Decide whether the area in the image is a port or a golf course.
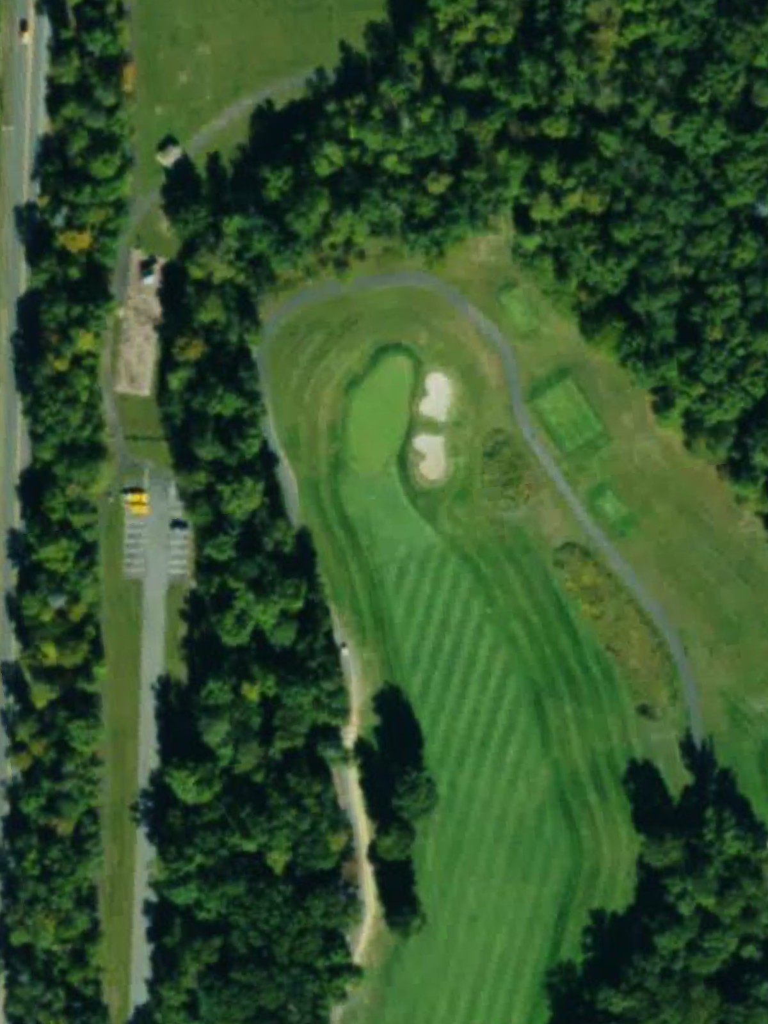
golf course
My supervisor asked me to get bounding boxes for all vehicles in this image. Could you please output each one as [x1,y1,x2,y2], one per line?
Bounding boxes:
[124,493,148,501]
[170,522,188,530]
[21,21,29,43]
[342,647,347,656]
[126,504,150,513]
